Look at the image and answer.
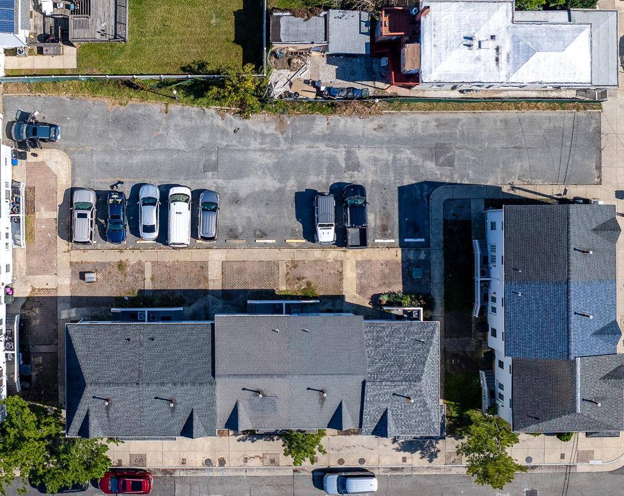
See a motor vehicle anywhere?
Yes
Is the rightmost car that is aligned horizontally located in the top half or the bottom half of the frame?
bottom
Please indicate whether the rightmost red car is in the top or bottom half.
bottom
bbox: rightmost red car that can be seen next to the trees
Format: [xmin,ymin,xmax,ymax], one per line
[100,468,154,496]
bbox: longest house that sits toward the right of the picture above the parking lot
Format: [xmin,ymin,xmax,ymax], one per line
[410,1,618,98]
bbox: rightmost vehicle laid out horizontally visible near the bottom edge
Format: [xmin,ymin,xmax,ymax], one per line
[323,469,378,496]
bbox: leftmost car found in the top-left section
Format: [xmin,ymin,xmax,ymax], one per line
[9,110,65,153]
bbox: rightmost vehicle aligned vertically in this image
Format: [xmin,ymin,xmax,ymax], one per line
[343,182,370,249]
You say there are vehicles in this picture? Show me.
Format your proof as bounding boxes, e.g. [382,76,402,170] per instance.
[323,469,378,496]
[343,182,370,249]
[104,190,130,246]
[69,189,97,243]
[165,185,193,249]
[100,468,154,496]
[194,189,221,243]
[312,194,338,244]
[9,110,65,153]
[137,185,162,240]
